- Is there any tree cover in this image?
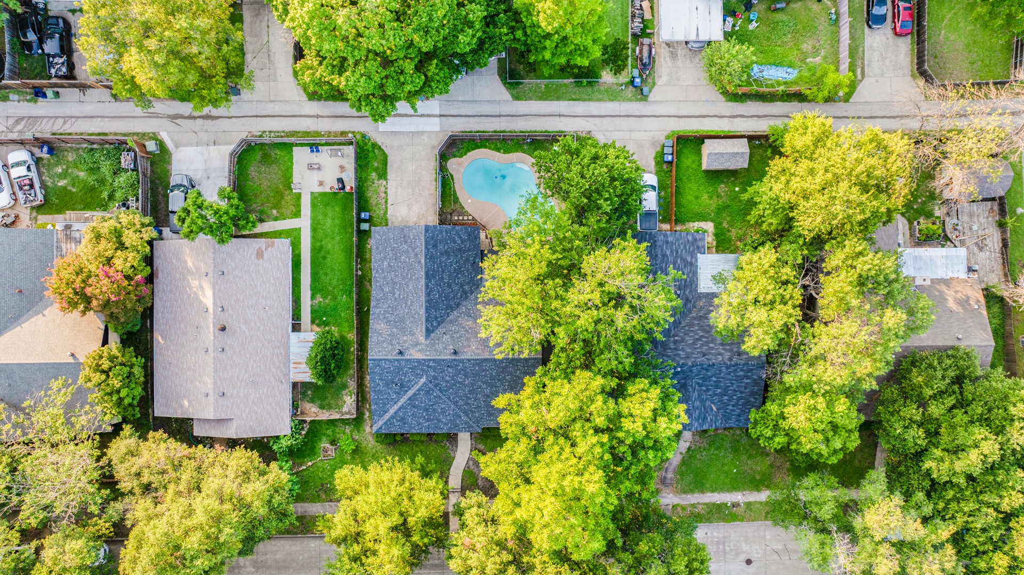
Yes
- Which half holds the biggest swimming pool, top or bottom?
top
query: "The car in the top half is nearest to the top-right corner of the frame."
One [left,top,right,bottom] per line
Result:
[885,0,914,38]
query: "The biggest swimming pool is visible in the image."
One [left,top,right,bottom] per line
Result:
[462,158,556,236]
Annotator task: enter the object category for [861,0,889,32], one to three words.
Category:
car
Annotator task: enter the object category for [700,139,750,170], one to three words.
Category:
shed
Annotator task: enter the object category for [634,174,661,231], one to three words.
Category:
truck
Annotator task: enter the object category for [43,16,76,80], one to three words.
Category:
truck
